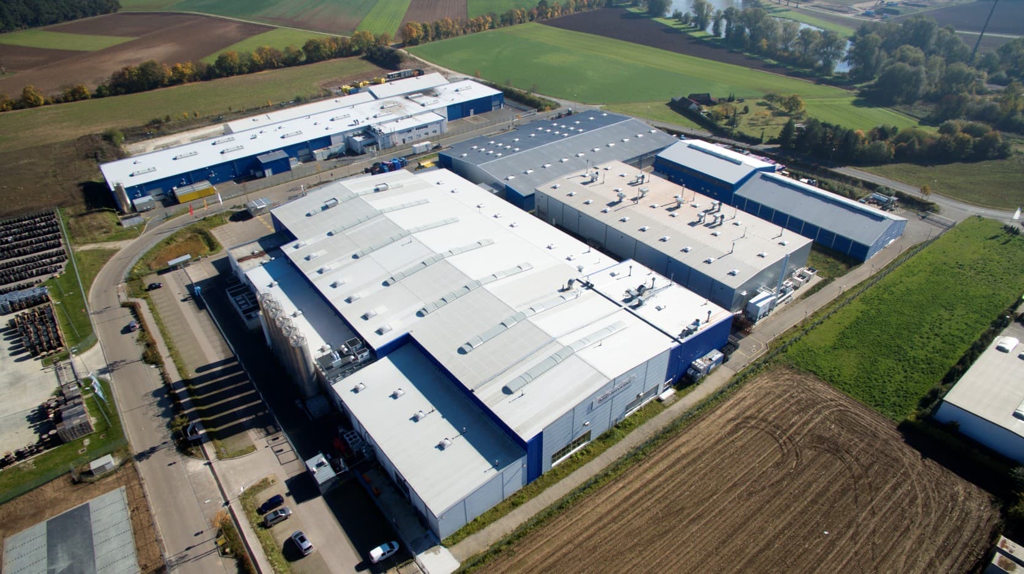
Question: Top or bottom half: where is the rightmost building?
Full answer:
You can find the rightmost building in the bottom half.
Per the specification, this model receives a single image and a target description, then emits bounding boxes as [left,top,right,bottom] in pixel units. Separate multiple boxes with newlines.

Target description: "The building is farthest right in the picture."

[933,330,1024,475]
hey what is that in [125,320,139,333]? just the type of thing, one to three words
vehicle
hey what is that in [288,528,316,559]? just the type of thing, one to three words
car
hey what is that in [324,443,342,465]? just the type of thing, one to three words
work vehicle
